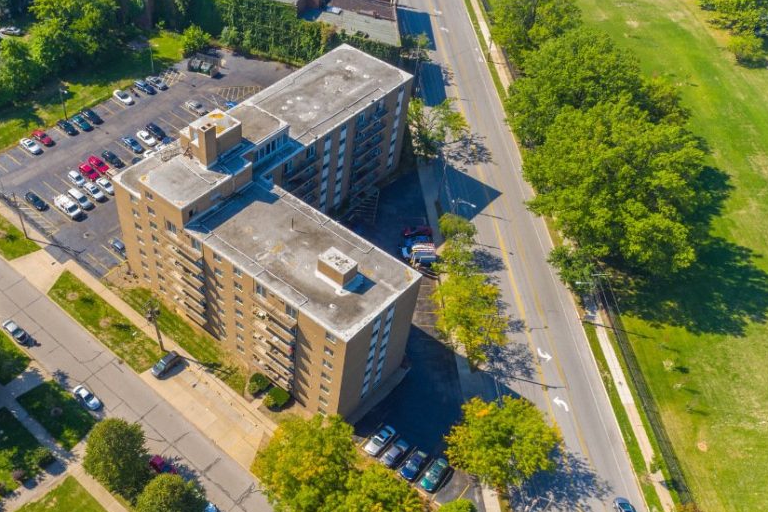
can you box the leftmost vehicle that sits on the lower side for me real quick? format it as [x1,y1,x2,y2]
[3,321,29,344]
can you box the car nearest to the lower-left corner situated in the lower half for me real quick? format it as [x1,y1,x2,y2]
[73,384,102,411]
